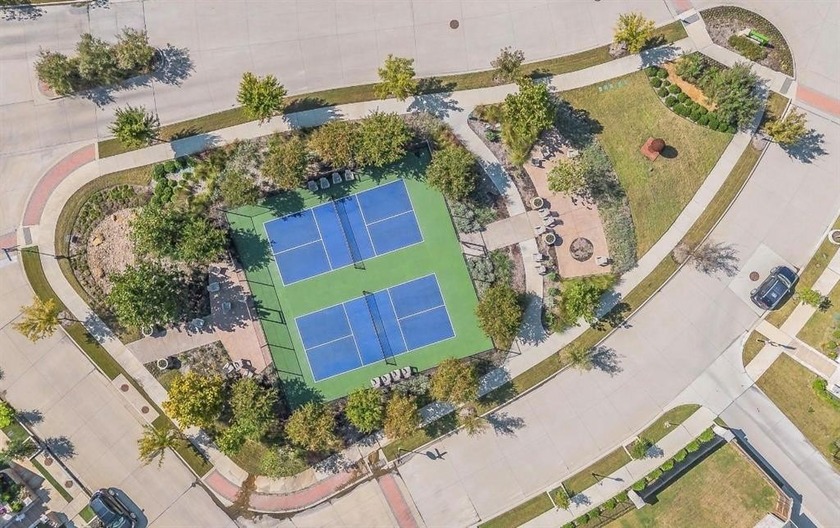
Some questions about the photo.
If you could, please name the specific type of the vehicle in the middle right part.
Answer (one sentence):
Looking closely, the vehicle in the middle right part is an automobile.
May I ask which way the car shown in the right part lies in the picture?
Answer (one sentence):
What the image shows is the car shown in the right part lying on a diagonal.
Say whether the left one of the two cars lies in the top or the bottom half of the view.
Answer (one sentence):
The left one of the two cars sits in the bottom half of the picture.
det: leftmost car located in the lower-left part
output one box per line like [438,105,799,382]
[87,489,135,528]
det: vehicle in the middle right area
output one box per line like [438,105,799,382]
[751,263,799,313]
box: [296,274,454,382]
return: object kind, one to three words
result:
sports court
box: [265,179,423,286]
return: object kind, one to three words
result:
sports court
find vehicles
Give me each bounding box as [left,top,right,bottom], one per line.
[87,489,135,528]
[751,263,799,313]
